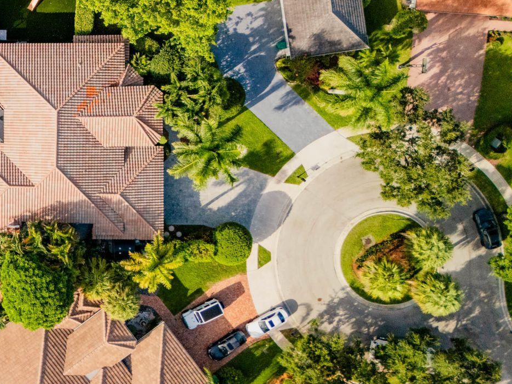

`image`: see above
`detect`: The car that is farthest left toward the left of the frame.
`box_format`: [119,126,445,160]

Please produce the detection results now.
[180,297,224,329]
